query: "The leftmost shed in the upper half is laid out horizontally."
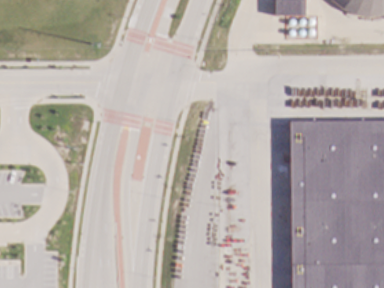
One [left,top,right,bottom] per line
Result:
[275,0,306,16]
